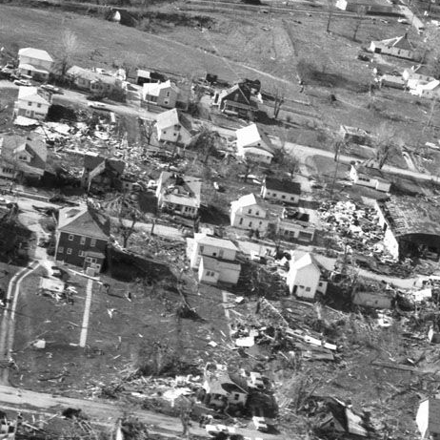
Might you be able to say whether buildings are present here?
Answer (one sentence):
Yes, you can see a building in this photo.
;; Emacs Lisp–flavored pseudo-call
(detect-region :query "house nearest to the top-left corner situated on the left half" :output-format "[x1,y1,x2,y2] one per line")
[19,51,56,85]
